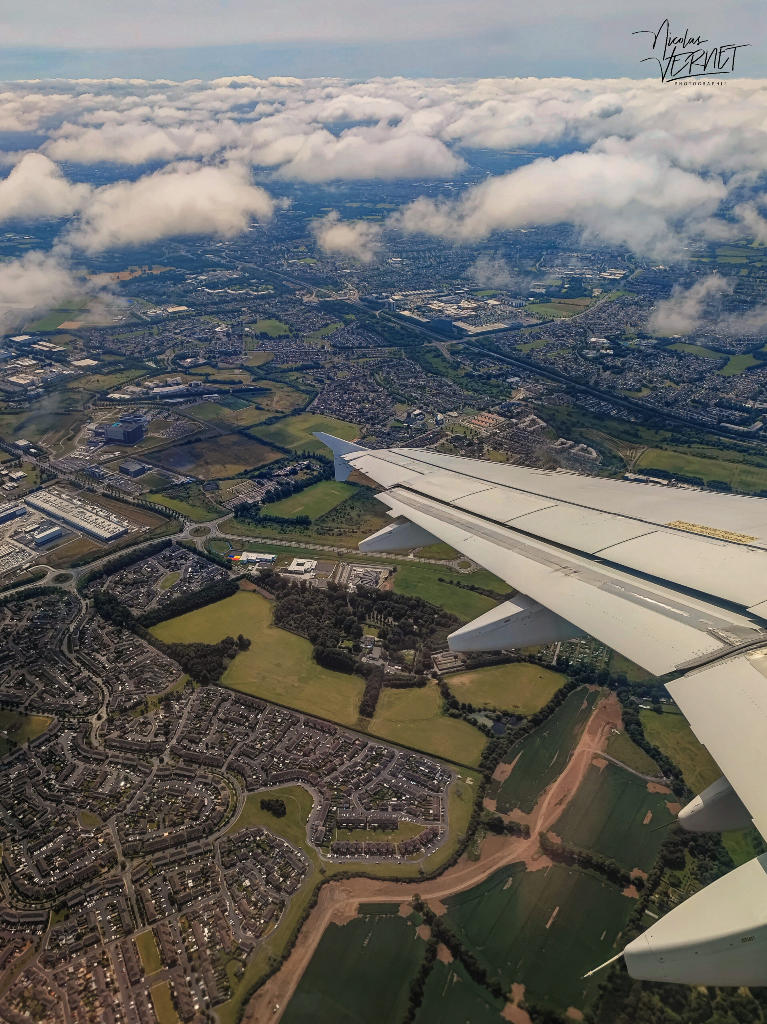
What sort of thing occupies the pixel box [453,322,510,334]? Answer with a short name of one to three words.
building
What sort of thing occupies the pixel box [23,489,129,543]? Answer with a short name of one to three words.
building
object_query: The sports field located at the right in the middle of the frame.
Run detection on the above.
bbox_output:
[638,451,767,491]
